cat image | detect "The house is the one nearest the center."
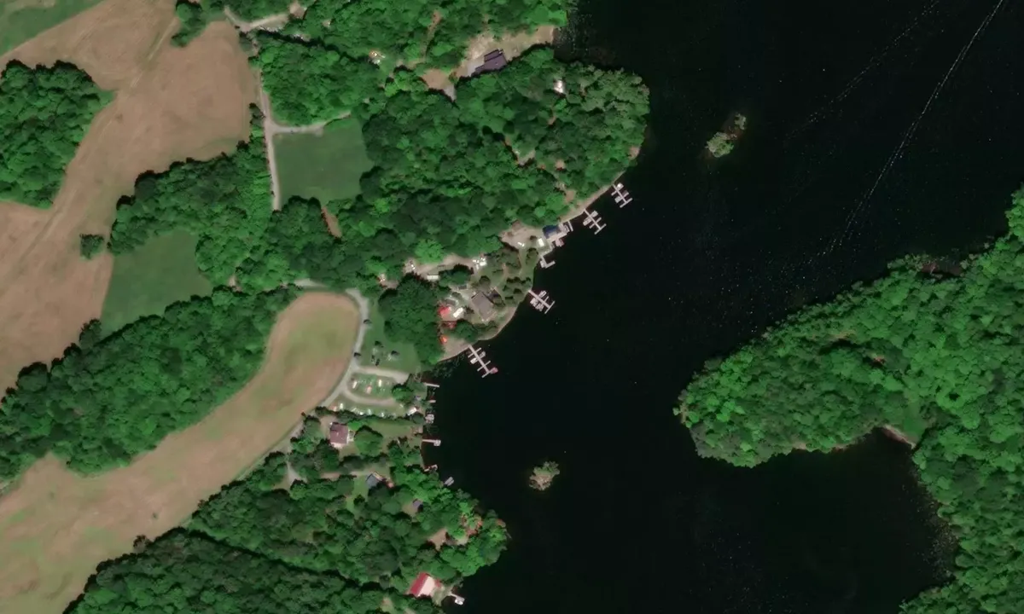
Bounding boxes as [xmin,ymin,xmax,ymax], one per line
[470,292,498,321]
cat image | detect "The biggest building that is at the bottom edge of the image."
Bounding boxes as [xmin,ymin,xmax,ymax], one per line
[409,571,436,600]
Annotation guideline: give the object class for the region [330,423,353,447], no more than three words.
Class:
house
